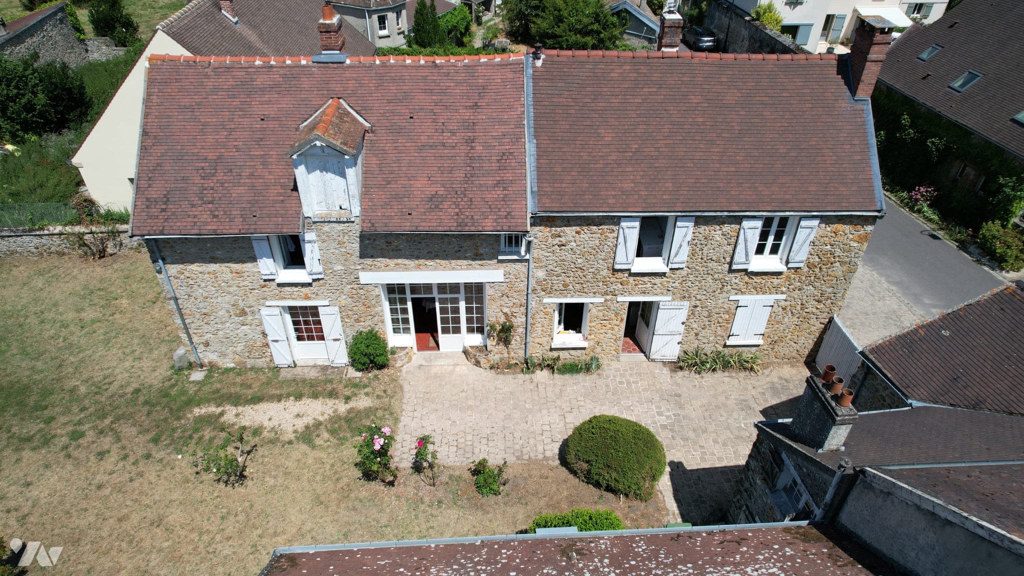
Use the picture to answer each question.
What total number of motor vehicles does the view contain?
1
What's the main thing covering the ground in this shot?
buildings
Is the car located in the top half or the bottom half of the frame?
top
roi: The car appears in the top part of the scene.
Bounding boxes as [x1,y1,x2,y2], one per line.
[679,7,724,46]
